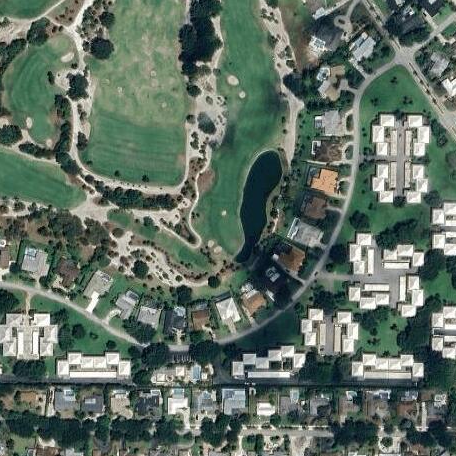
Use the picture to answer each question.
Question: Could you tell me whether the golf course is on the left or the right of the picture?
left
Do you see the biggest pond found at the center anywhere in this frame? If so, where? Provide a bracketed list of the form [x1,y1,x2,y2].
[237,150,281,263]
